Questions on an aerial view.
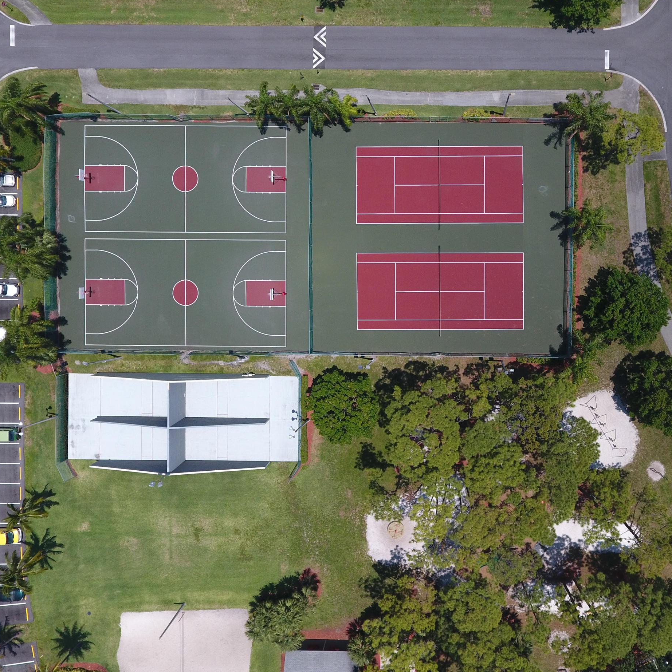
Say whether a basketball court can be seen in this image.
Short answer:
Yes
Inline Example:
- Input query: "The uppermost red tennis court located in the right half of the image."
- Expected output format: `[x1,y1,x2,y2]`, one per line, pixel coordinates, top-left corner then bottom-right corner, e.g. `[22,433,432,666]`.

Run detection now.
[356,146,524,224]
